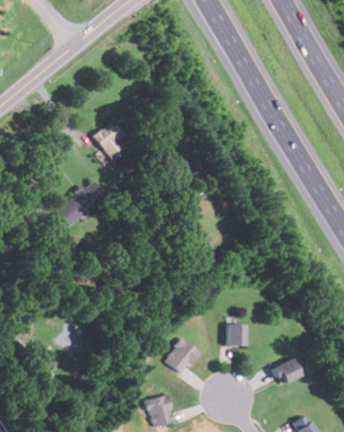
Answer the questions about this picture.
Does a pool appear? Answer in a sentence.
No, there appears to be no pool in this shot.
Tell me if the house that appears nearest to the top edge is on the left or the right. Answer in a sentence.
The house that appears nearest to the top edge appears in the left half of the scene.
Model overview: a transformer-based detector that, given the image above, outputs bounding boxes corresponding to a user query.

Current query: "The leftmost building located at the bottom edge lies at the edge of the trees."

[144,390,174,428]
